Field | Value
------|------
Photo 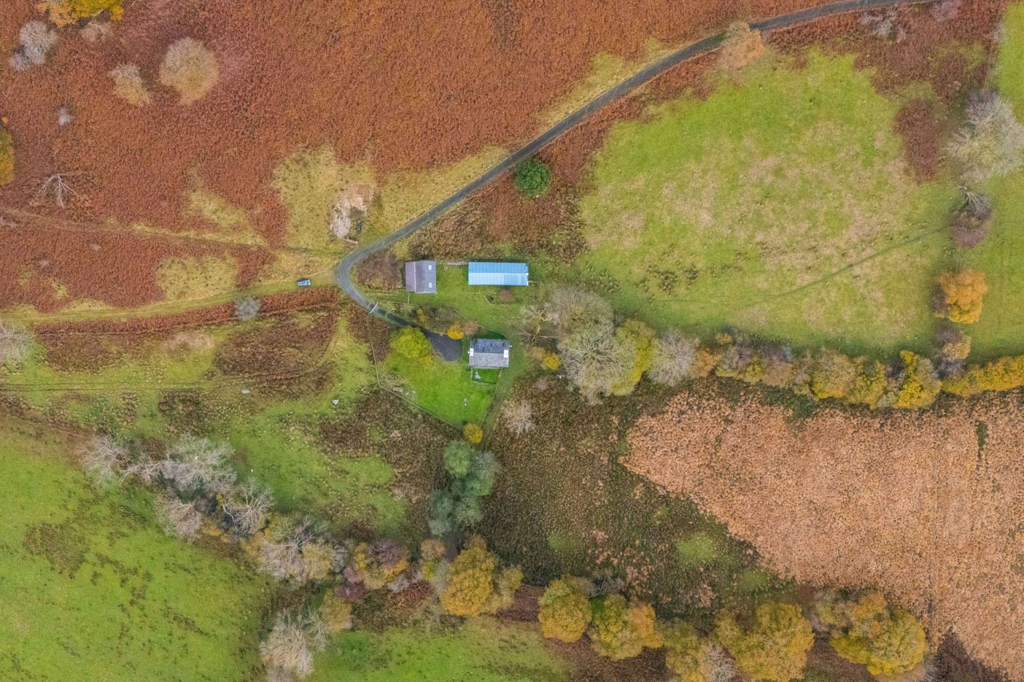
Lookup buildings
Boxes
[468,262,529,287]
[406,260,437,294]
[469,339,511,369]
